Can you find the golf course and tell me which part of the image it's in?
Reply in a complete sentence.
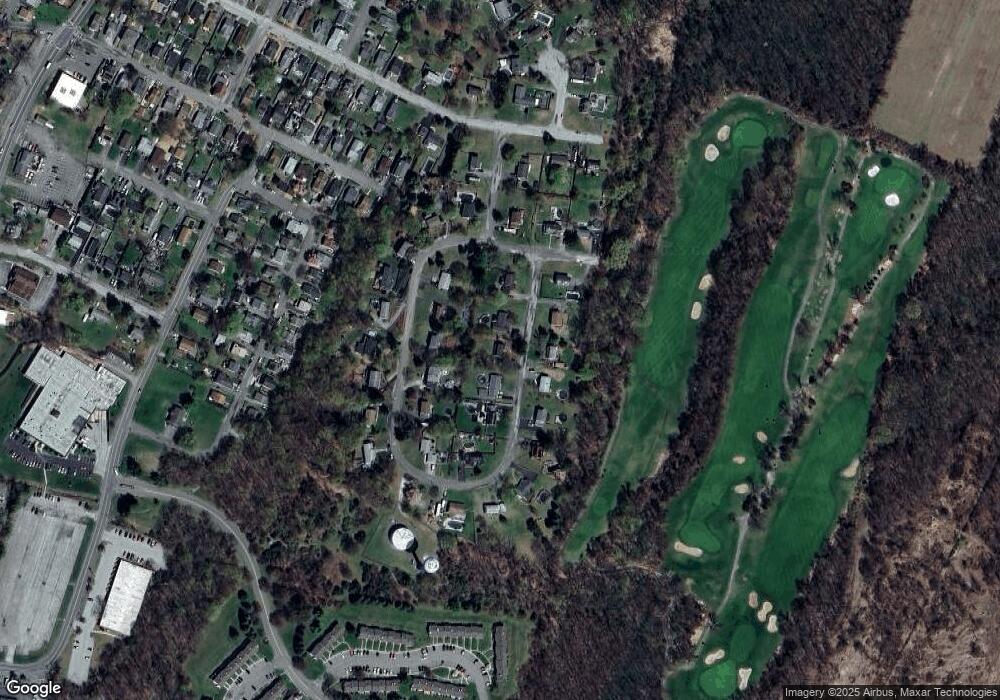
The golf course appears toward the right of the photo.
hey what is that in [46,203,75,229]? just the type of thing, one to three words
building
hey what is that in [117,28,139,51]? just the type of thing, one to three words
house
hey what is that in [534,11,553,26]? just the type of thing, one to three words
swimming pool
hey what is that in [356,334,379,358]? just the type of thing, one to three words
house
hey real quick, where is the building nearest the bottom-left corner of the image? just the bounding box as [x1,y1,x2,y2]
[98,560,152,637]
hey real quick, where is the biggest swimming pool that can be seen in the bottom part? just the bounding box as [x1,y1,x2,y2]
[445,516,464,531]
